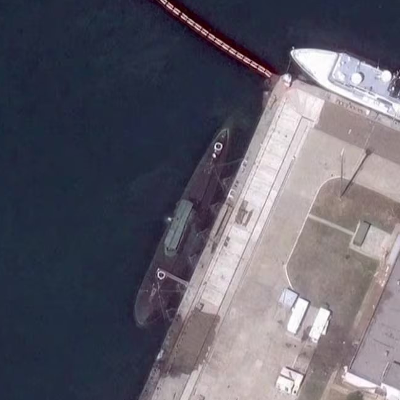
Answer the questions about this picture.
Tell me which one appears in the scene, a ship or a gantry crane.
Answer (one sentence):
The one in the frame is a ship.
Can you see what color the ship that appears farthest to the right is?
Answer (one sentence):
The ship that appears farthest to the right is white.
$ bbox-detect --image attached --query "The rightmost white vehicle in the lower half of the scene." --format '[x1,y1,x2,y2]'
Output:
[308,310,328,346]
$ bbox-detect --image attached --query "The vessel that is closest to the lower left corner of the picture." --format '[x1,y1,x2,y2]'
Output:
[134,130,227,328]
